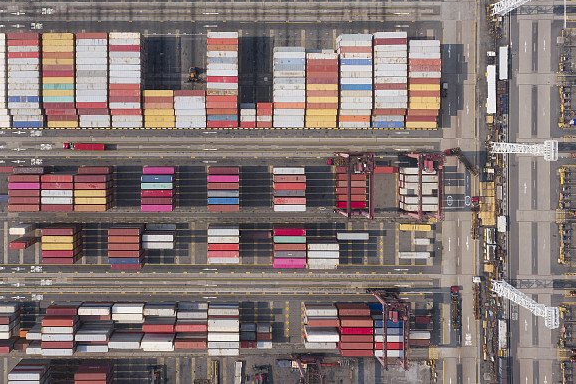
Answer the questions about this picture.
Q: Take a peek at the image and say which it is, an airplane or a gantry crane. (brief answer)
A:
gantry crane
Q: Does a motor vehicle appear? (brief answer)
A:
Yes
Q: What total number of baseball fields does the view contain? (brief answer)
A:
0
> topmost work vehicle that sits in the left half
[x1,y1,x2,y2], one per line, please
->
[185,64,200,87]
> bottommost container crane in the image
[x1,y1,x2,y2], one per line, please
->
[289,357,325,384]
